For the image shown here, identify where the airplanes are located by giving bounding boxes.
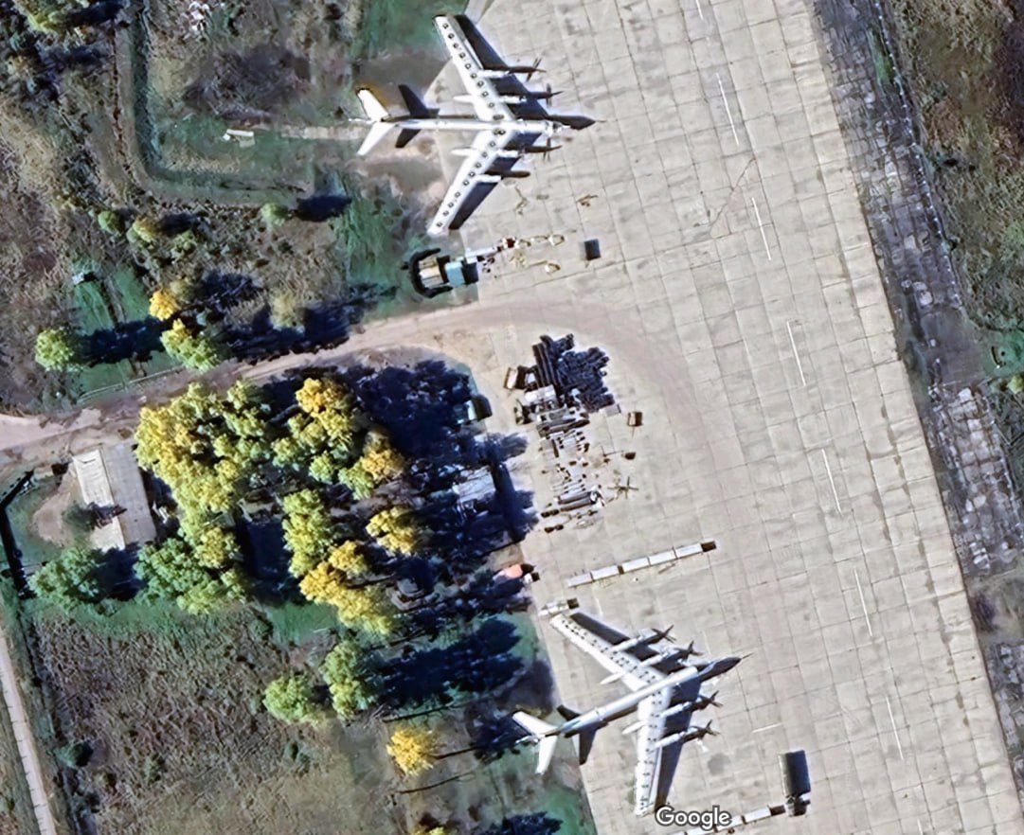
[348,17,572,231]
[511,611,732,818]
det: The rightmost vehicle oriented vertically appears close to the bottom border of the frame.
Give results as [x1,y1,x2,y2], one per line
[779,756,796,819]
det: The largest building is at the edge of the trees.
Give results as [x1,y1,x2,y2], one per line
[73,443,155,552]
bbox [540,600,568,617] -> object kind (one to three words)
vehicle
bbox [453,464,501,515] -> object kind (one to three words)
shed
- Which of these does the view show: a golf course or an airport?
airport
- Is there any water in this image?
No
